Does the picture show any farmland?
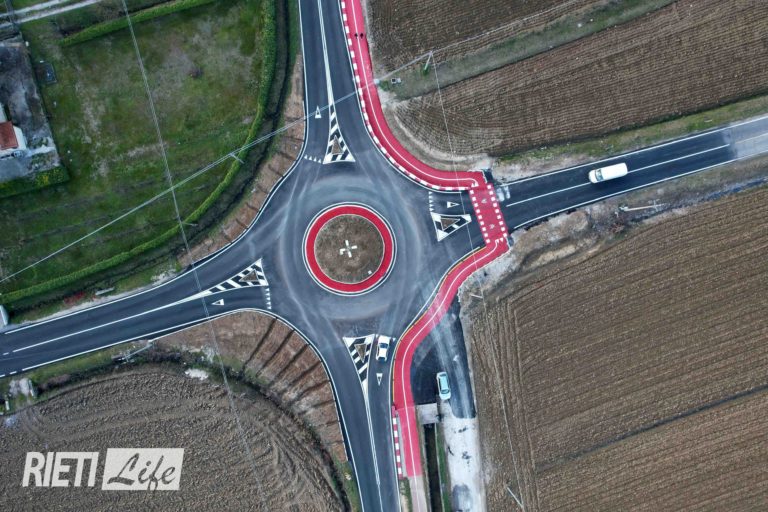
Yes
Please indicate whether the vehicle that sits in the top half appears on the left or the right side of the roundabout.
to the right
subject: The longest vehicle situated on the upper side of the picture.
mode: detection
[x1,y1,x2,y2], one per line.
[589,162,631,183]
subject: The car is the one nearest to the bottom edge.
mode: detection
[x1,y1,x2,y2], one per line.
[437,373,452,399]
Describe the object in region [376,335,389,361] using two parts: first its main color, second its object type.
white vehicle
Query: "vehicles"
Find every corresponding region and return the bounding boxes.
[376,335,389,361]
[437,373,452,399]
[589,162,631,183]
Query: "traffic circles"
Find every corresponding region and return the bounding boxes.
[152,102,479,459]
